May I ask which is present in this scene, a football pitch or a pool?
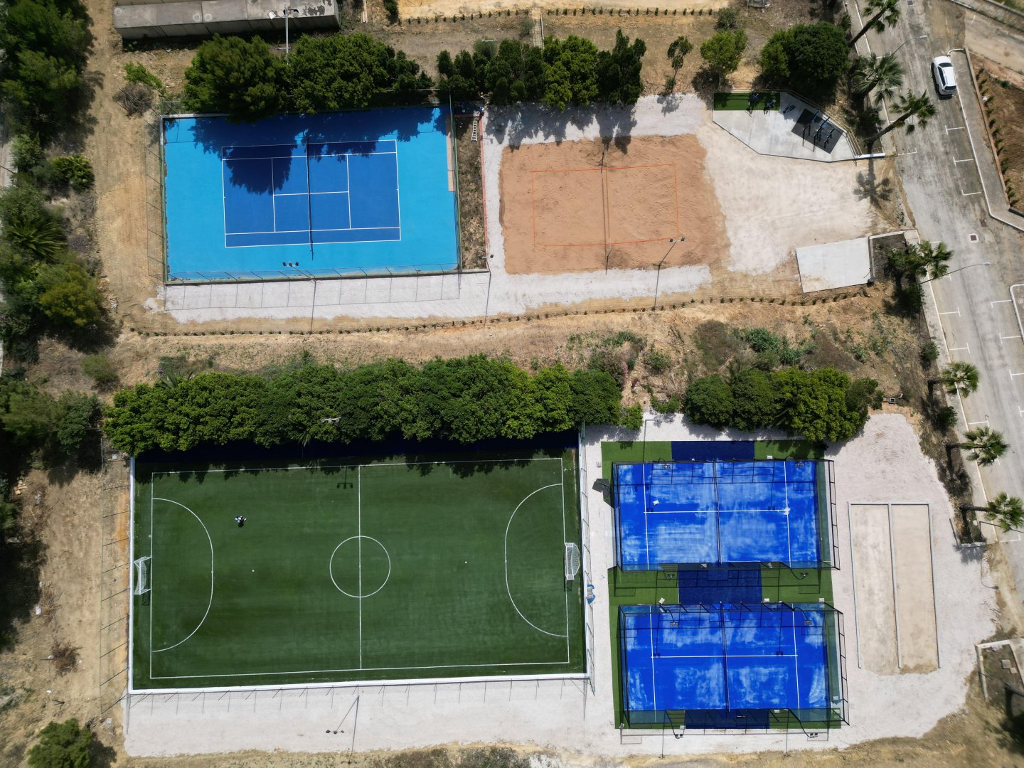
football pitch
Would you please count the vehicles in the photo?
1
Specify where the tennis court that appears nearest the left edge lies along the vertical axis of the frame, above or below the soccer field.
above it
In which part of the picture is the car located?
top right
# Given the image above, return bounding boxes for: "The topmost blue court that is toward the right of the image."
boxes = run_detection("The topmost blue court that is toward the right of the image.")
[612,459,840,573]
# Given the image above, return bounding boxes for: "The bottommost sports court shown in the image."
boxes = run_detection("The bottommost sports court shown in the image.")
[619,602,849,728]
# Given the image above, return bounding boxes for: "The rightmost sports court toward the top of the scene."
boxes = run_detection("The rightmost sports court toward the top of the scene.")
[499,133,733,275]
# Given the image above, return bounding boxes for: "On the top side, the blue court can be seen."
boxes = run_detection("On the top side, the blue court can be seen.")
[161,105,460,283]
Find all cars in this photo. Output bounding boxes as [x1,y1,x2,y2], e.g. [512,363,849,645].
[931,56,962,98]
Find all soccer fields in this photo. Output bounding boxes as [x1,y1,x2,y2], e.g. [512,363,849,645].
[134,427,585,688]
